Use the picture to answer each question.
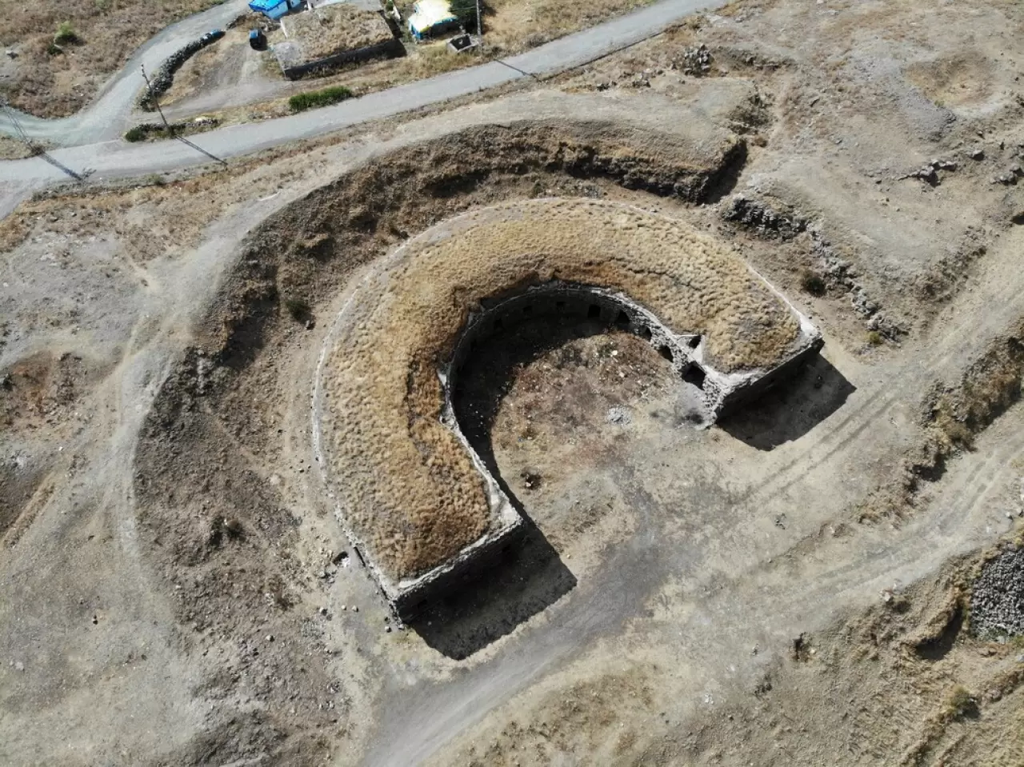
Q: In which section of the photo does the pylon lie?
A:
top left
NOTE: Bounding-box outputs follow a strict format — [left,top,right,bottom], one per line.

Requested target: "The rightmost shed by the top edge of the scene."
[407,0,460,45]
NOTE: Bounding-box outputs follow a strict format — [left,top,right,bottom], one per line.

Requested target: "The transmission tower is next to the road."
[0,96,44,154]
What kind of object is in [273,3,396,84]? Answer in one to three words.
house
